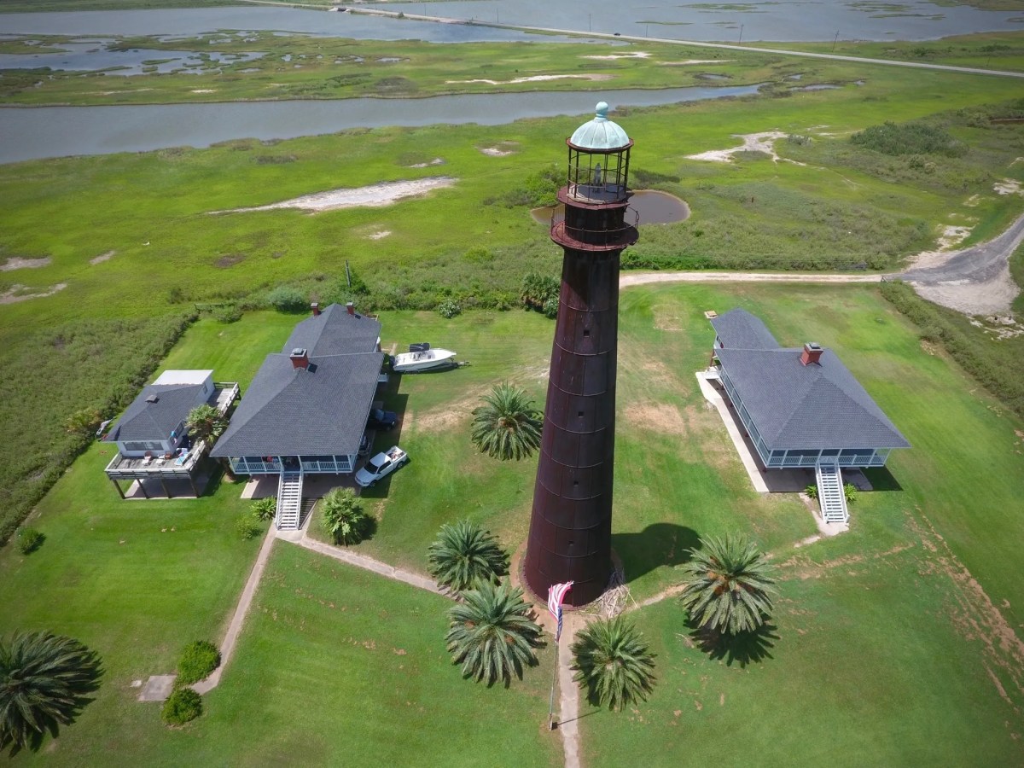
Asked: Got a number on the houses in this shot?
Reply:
3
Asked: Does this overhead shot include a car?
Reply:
Yes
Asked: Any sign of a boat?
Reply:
Yes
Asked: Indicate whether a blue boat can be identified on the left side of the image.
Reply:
No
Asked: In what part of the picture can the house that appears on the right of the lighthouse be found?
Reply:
right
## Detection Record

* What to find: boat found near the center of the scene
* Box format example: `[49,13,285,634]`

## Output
[388,342,453,373]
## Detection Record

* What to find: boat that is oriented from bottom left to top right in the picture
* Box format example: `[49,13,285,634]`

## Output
[94,418,115,435]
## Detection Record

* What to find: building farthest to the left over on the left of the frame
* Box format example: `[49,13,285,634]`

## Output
[100,367,245,499]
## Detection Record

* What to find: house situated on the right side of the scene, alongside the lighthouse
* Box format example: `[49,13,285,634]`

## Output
[701,304,912,523]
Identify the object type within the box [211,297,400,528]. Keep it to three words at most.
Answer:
house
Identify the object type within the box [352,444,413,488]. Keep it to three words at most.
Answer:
truck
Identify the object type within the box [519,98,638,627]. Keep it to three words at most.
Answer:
lighthouse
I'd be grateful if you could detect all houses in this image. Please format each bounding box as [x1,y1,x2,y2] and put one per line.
[701,304,912,523]
[100,367,245,499]
[211,297,400,528]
